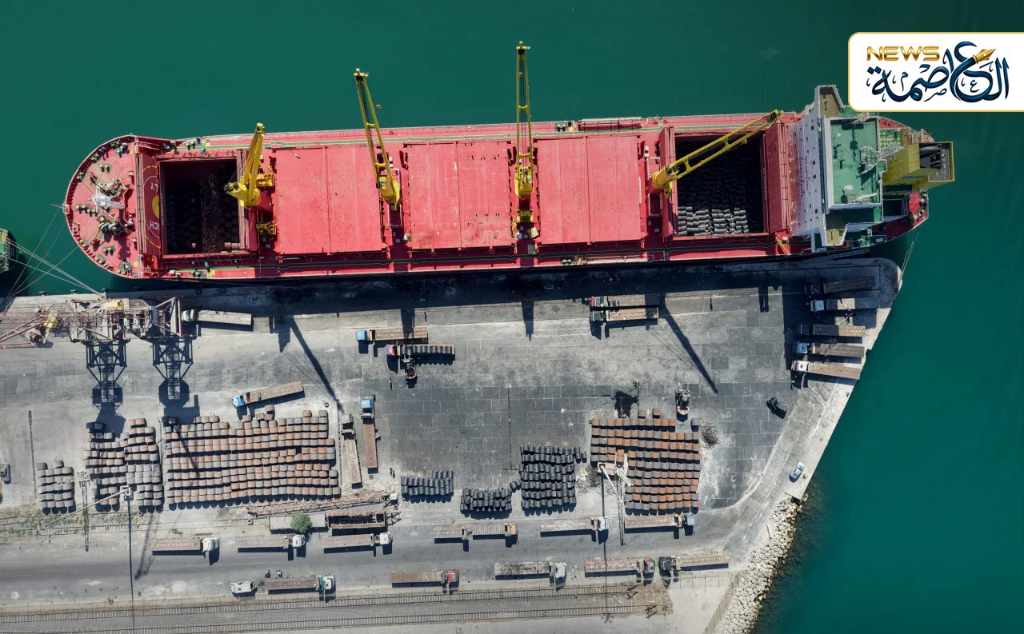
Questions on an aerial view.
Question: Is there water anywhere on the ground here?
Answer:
Yes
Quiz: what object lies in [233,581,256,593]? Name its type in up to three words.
vehicle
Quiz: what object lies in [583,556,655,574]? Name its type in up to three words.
vehicle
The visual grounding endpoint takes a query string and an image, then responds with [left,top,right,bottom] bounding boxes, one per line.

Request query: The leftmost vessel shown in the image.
[0,232,28,271]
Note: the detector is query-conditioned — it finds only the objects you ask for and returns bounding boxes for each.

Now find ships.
[49,41,952,283]
[0,232,28,271]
